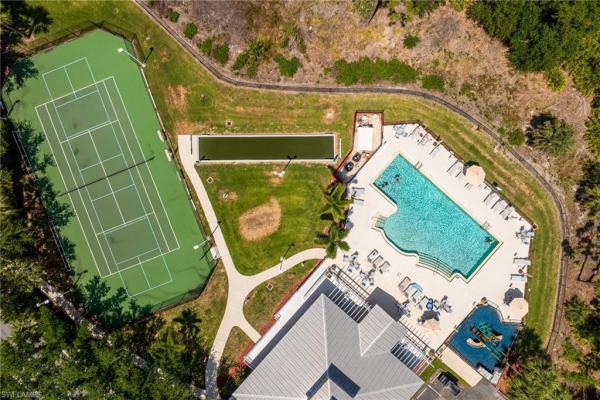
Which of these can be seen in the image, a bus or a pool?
pool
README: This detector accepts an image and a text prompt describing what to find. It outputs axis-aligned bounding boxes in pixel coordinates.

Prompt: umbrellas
[463,165,485,186]
[504,298,527,319]
[420,317,441,336]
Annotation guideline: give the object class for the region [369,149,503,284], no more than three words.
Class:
swimming pool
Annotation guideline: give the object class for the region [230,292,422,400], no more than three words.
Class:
building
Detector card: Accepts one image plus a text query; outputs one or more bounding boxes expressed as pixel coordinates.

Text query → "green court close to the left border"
[3,29,213,325]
